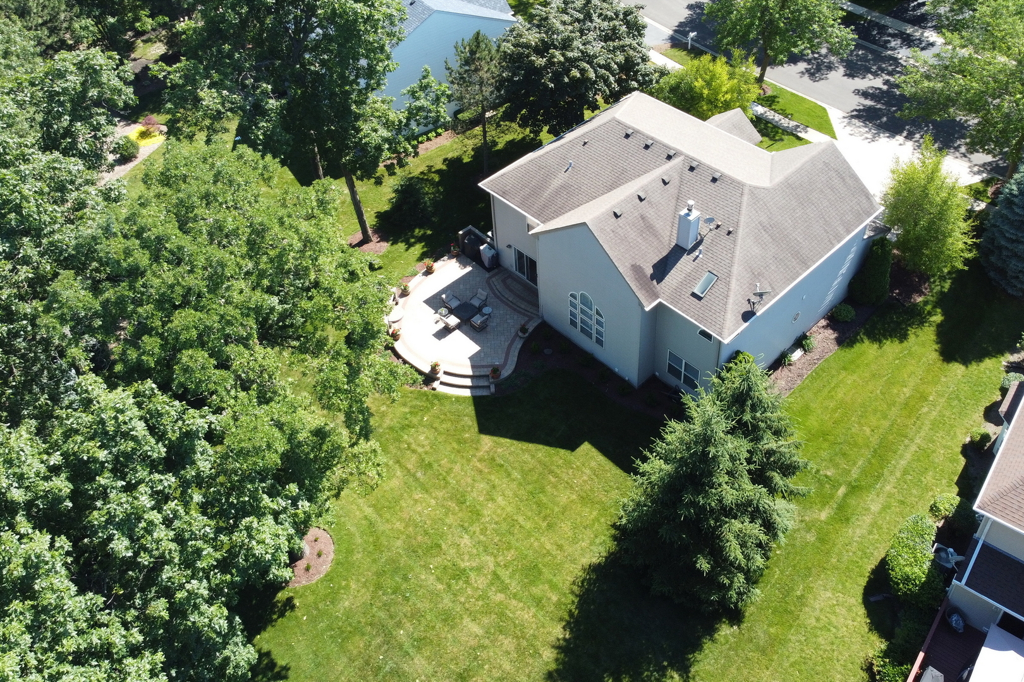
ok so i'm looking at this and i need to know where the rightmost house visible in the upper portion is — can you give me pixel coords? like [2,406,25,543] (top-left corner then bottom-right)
[475,89,887,397]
